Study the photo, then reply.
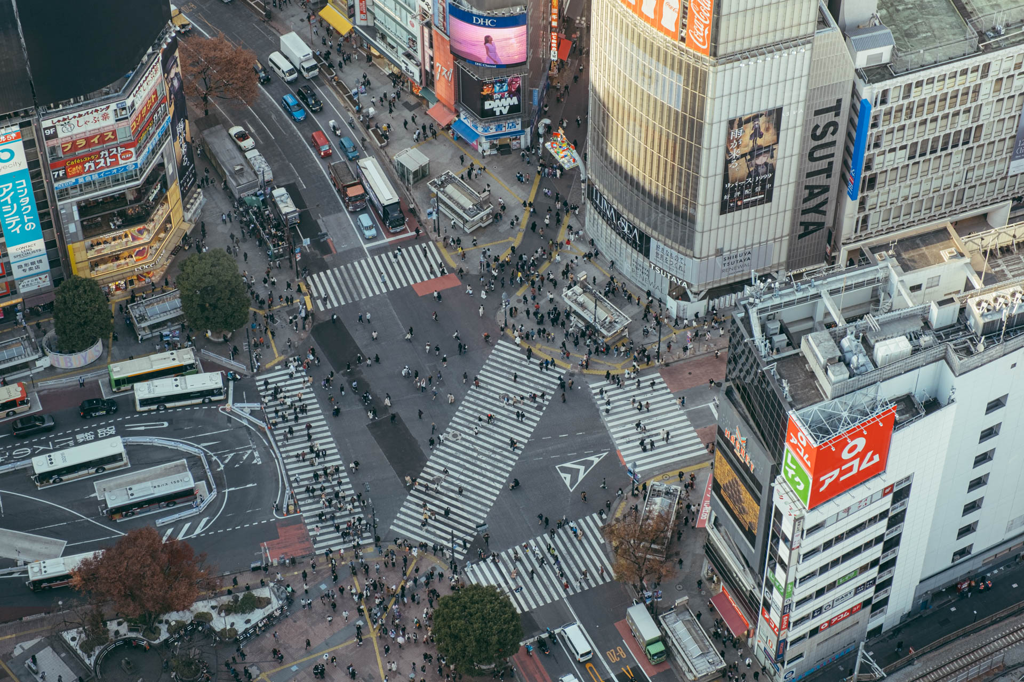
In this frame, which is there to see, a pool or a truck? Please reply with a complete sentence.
Looking from above, you can make out a truck.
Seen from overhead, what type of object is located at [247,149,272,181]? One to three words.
truck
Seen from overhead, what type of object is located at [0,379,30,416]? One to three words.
bus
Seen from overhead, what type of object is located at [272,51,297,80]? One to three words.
vehicle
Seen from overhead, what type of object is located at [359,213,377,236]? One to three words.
car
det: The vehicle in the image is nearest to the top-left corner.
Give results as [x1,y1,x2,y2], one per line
[168,0,193,29]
